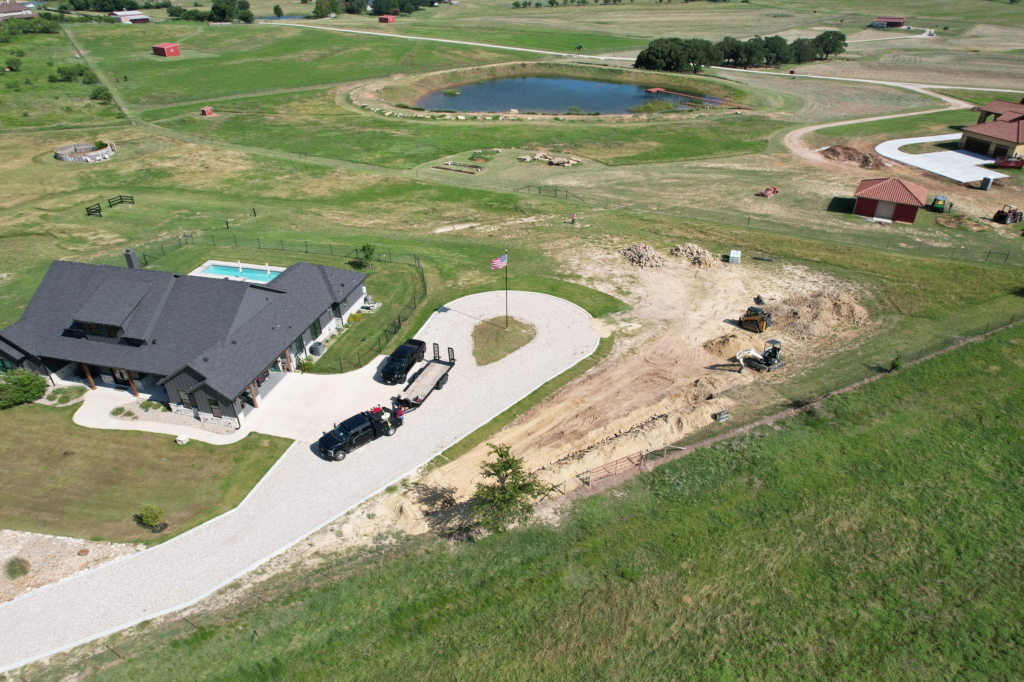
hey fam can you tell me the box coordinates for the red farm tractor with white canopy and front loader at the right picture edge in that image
[992,203,1024,224]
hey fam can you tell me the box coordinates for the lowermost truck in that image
[315,405,407,463]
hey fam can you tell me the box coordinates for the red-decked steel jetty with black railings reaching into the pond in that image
[640,84,756,110]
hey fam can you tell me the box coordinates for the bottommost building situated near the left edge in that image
[0,244,369,431]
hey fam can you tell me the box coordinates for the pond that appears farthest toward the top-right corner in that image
[421,74,708,113]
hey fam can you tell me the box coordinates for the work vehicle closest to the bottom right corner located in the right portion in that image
[736,338,789,375]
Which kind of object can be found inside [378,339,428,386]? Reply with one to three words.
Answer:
truck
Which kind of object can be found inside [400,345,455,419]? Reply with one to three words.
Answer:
trailer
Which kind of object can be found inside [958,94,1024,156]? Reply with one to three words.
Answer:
house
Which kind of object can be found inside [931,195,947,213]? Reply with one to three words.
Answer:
vehicle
